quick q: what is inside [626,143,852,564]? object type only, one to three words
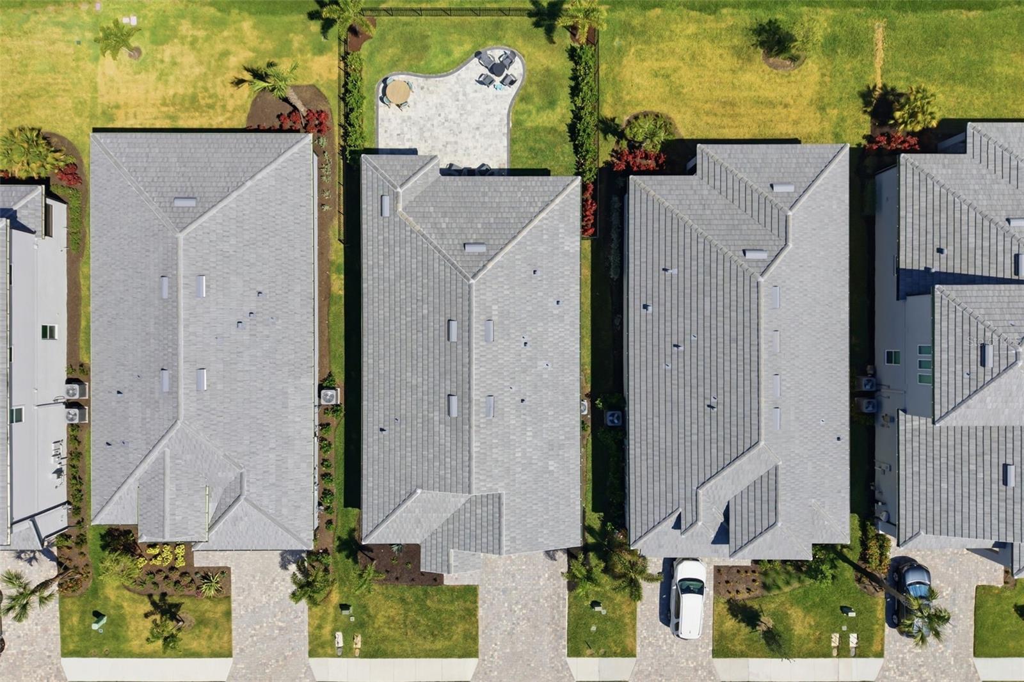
house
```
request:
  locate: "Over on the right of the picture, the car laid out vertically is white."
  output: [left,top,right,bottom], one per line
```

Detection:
[667,556,709,640]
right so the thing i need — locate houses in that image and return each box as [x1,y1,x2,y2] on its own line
[0,183,69,549]
[626,143,852,564]
[871,121,1024,581]
[88,131,319,552]
[359,153,583,576]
